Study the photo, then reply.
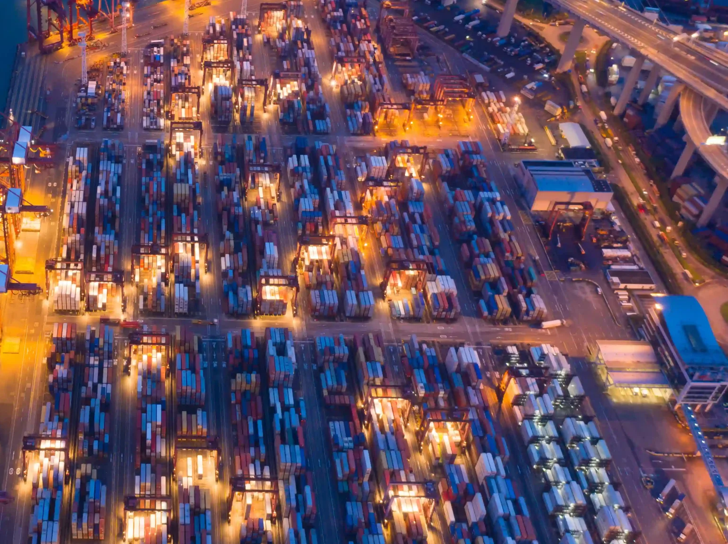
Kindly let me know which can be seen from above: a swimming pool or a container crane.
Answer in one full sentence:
It is a container crane that can be seen here.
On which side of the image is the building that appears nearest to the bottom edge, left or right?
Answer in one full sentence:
You can find the building that appears nearest to the bottom edge on the right side of the picture.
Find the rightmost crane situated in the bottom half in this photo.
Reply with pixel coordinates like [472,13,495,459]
[497,364,555,403]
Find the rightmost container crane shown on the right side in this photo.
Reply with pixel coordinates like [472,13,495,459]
[544,199,593,235]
